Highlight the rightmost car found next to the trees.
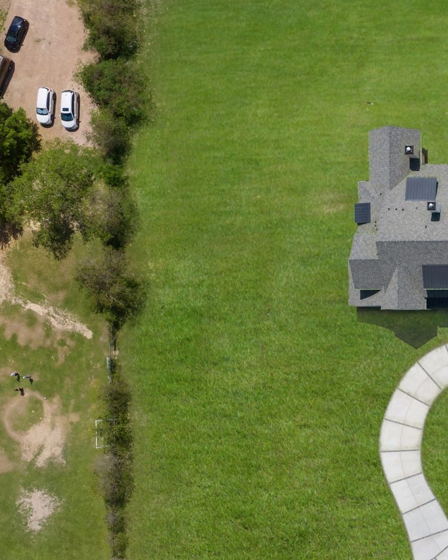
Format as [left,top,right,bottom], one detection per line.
[62,92,81,130]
